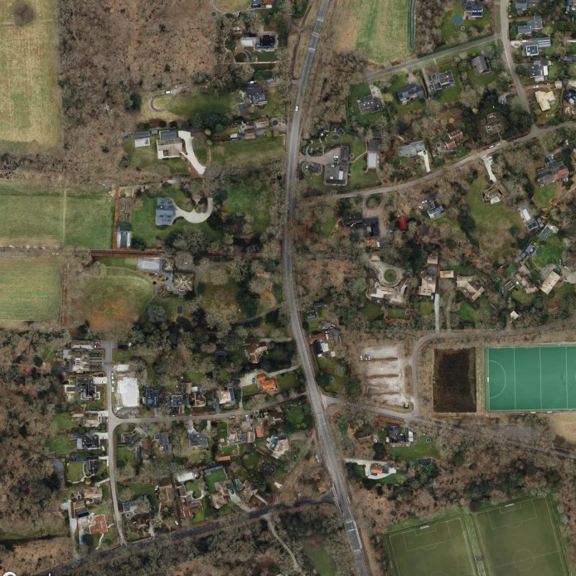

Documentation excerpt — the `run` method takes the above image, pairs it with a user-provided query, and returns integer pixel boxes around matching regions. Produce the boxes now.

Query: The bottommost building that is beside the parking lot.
[387,426,413,447]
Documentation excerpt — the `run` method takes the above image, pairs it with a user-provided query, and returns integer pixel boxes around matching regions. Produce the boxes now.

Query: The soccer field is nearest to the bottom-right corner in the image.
[466,484,571,576]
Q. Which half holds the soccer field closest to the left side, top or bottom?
bottom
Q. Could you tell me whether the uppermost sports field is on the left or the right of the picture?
right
